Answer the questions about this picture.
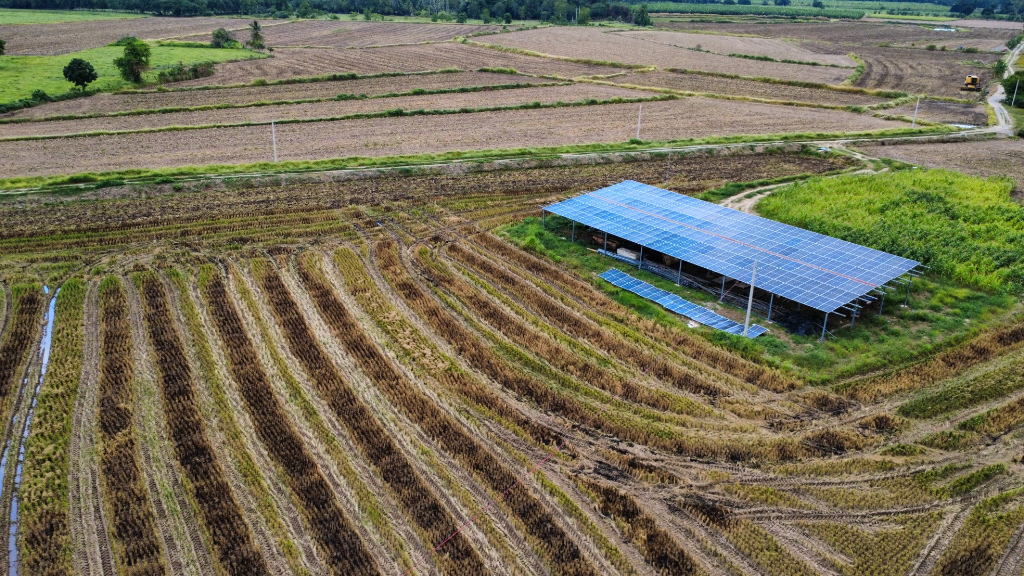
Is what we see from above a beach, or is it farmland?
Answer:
farmland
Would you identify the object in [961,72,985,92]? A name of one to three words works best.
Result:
work vehicle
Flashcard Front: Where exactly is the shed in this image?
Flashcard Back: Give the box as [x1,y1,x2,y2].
[539,178,935,347]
